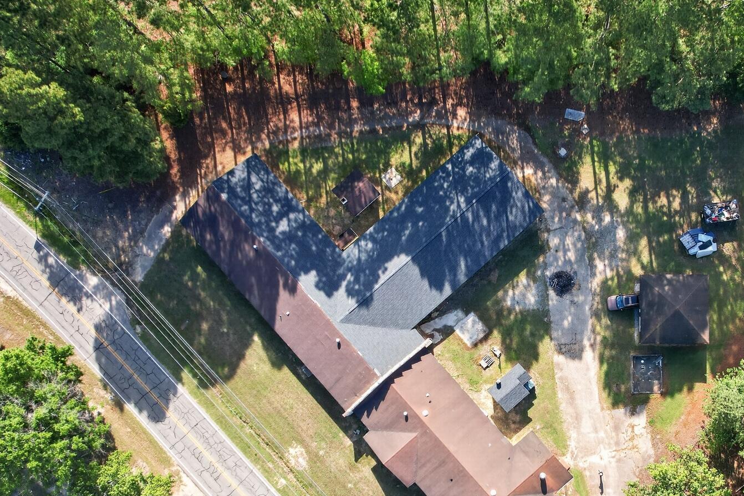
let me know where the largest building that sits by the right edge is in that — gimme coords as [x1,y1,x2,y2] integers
[638,274,710,345]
